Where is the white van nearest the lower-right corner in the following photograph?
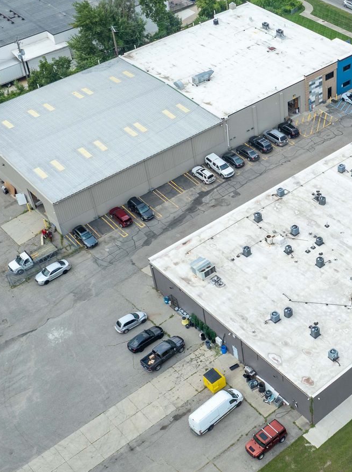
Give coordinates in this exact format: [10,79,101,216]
[187,387,246,435]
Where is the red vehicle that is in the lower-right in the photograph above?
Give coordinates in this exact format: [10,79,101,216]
[245,416,290,459]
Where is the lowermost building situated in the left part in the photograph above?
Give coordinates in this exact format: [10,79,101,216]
[0,56,231,235]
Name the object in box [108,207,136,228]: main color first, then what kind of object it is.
red car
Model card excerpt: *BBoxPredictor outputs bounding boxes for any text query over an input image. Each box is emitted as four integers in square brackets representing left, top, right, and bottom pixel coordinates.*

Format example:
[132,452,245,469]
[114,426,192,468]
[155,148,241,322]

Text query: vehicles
[343,0,352,8]
[276,122,303,139]
[341,93,352,104]
[137,336,187,373]
[125,327,166,355]
[34,258,73,285]
[70,220,100,247]
[203,150,236,176]
[108,207,136,228]
[125,193,155,219]
[187,387,246,435]
[262,128,291,147]
[248,136,276,153]
[8,237,65,276]
[223,153,247,169]
[245,416,290,459]
[235,145,262,162]
[114,313,149,333]
[190,165,218,184]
